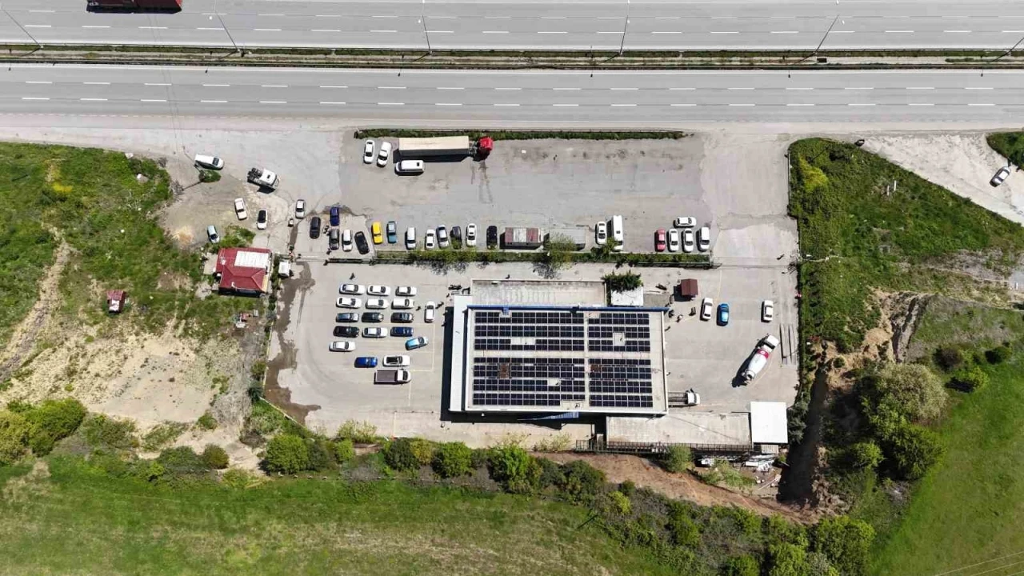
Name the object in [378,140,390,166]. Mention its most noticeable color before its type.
white vehicle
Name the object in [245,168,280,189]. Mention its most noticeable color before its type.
white truck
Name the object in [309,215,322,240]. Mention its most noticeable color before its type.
black vehicle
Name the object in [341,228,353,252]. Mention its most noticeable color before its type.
white vehicle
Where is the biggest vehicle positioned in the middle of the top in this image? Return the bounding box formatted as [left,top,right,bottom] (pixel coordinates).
[398,132,490,154]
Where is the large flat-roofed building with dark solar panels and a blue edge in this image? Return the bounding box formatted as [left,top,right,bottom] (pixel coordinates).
[451,280,668,420]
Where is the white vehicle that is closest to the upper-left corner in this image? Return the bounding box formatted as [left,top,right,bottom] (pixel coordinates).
[193,152,224,171]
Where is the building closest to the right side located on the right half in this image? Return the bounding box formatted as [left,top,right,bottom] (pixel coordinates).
[746,402,788,456]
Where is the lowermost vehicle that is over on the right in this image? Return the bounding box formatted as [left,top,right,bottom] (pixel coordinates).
[668,391,700,405]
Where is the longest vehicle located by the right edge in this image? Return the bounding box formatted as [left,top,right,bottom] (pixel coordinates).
[989,165,1010,187]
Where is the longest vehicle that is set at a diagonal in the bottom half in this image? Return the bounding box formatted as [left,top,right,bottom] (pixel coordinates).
[743,332,782,380]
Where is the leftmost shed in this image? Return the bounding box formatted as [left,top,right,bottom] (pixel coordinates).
[108,290,127,312]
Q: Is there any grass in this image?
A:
Yes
